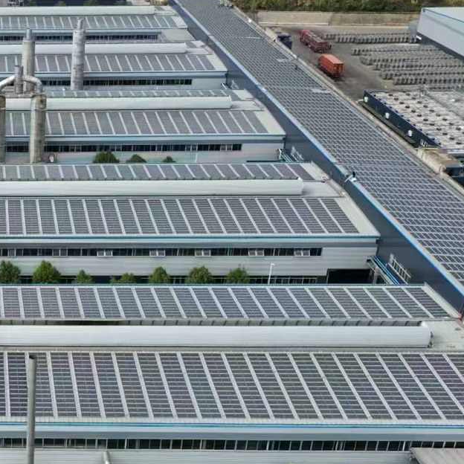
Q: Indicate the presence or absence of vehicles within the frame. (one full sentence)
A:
Yes, the picture does show a vehicle.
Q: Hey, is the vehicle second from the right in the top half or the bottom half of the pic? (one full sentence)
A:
It is in the top half that the vehicle second from the right appears.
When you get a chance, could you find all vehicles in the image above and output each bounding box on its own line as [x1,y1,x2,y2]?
[295,29,333,49]
[322,50,345,73]
[277,35,293,48]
